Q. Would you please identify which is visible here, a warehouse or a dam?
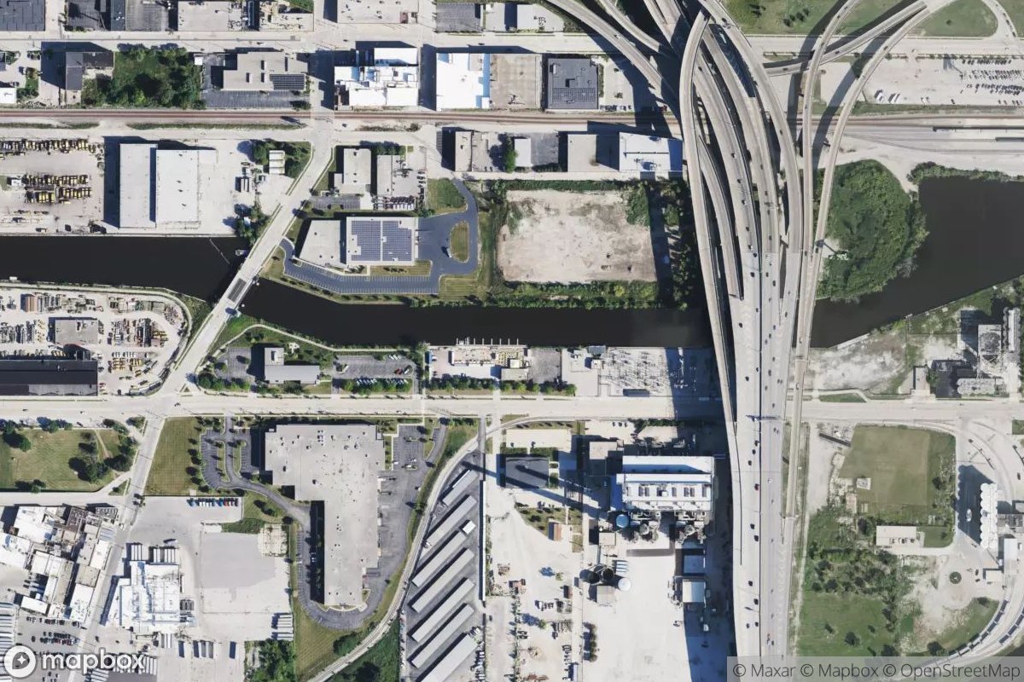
warehouse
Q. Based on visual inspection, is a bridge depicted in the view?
Yes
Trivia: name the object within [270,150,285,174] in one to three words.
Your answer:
shed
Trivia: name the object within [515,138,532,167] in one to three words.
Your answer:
house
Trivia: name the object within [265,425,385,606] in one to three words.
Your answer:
warehouse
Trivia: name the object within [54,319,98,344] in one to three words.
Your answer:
building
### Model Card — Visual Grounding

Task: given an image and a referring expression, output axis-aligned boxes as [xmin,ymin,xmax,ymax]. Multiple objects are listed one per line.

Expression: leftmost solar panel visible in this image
[270,74,304,89]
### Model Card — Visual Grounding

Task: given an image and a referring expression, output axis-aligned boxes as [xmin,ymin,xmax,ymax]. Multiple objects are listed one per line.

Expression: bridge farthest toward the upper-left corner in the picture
[212,246,272,320]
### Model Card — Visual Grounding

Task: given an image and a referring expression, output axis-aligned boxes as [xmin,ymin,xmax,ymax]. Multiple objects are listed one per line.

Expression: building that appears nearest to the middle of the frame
[502,359,528,382]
